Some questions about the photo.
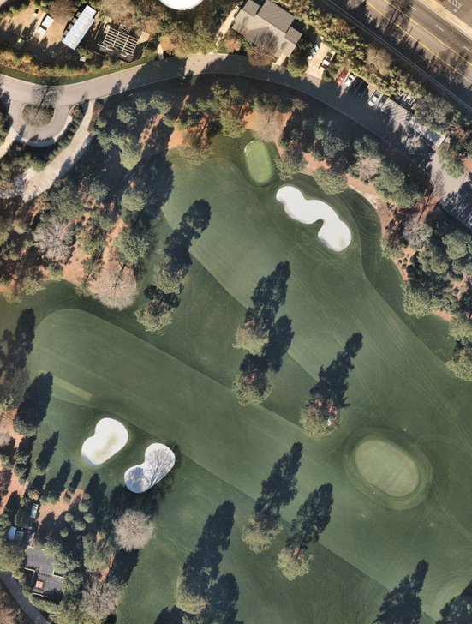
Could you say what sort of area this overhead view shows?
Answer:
golf course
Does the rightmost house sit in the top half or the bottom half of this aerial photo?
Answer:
top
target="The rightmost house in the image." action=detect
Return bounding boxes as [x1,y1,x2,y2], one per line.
[230,0,305,62]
